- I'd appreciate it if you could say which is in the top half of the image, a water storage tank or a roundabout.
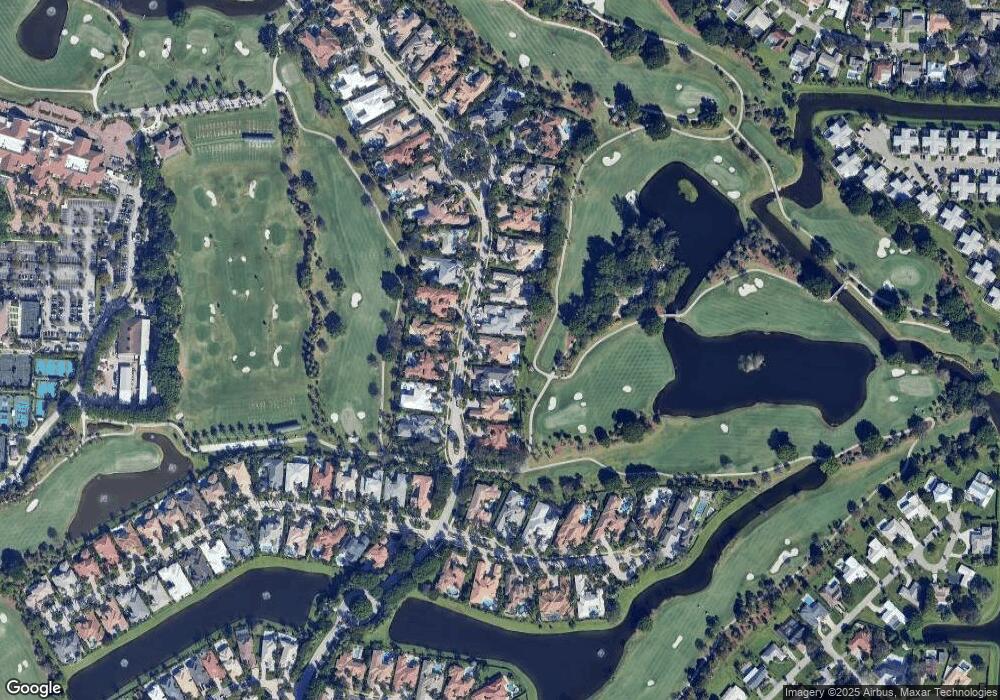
roundabout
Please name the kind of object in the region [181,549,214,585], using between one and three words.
house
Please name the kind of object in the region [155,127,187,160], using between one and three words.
building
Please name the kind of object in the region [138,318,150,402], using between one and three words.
shed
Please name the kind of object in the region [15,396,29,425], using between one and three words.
tennis court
